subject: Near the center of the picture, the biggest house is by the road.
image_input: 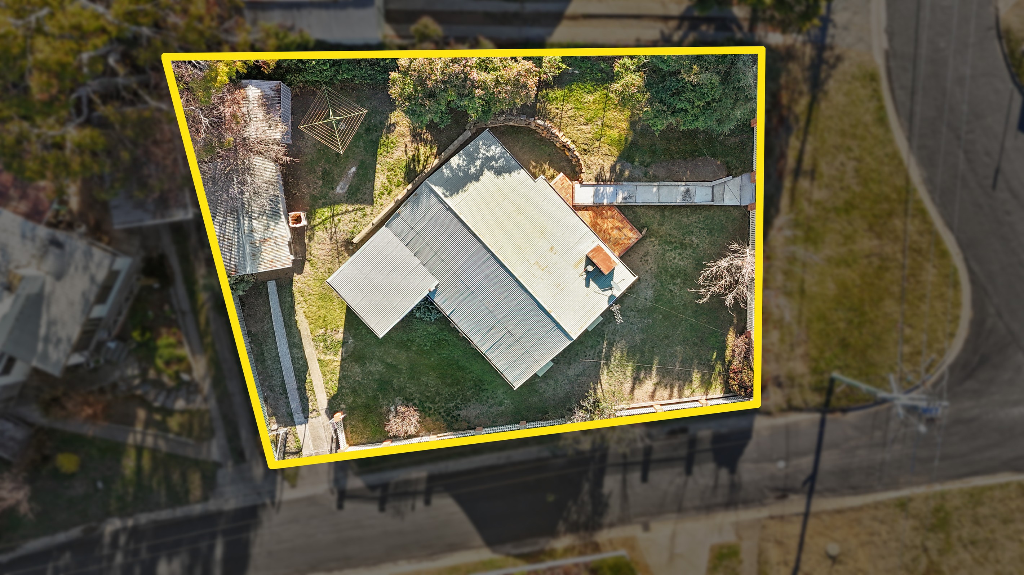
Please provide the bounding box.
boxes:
[326,129,639,391]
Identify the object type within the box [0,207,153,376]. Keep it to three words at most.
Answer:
house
